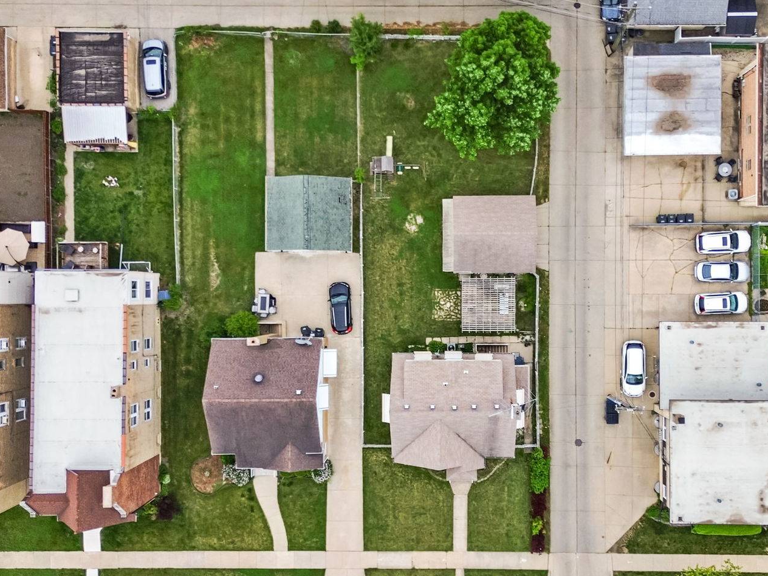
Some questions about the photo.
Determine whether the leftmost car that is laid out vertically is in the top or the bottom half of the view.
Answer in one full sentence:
The leftmost car that is laid out vertically sits in the top half of the picture.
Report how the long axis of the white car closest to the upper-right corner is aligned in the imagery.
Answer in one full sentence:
The white car closest to the upper-right corner is oriented from left to right.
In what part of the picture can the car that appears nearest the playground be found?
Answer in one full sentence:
Look in the center portion of the view to spot the car that appears nearest the playground.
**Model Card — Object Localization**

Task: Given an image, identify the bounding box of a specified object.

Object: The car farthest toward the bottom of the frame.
[620,341,647,394]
